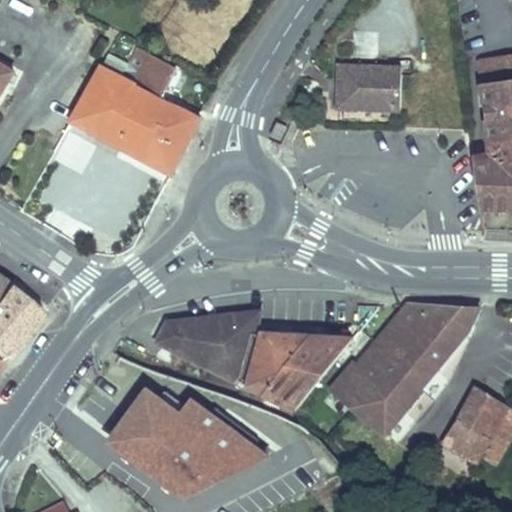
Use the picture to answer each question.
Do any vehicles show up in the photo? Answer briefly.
Yes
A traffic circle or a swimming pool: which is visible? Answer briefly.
traffic circle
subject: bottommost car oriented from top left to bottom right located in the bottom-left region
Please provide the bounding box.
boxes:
[94,375,117,394]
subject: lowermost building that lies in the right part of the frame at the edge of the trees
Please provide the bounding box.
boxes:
[442,386,512,466]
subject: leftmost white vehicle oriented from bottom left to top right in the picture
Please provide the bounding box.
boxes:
[32,332,49,354]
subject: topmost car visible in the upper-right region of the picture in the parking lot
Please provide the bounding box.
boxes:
[461,10,480,23]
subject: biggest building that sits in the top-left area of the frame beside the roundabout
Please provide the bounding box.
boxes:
[70,63,201,180]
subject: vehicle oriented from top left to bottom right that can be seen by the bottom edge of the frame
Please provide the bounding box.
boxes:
[295,466,314,486]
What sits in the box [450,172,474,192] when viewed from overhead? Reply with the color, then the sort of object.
white car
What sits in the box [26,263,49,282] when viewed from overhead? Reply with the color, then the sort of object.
white car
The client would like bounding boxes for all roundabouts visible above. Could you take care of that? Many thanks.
[186,153,296,261]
